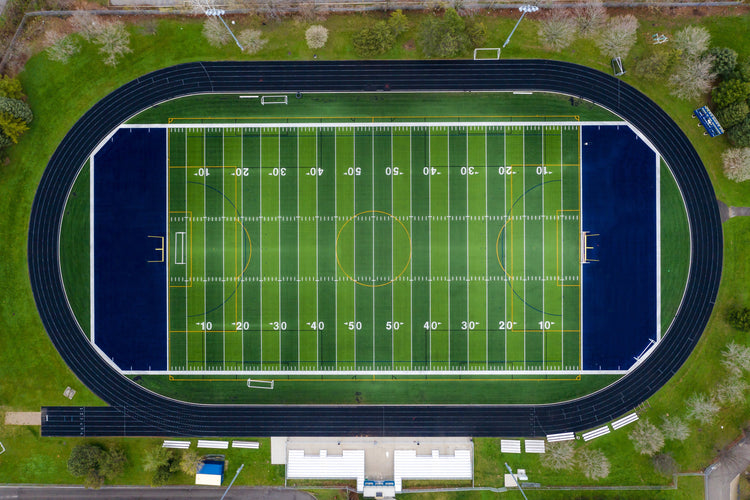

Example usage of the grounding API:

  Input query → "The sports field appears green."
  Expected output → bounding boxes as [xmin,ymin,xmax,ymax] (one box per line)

[61,91,691,405]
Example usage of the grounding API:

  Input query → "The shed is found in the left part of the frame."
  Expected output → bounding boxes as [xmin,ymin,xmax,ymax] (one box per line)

[196,460,224,485]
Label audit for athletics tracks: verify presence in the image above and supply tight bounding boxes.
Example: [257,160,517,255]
[29,59,724,436]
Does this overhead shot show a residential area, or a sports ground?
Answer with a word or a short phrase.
sports ground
